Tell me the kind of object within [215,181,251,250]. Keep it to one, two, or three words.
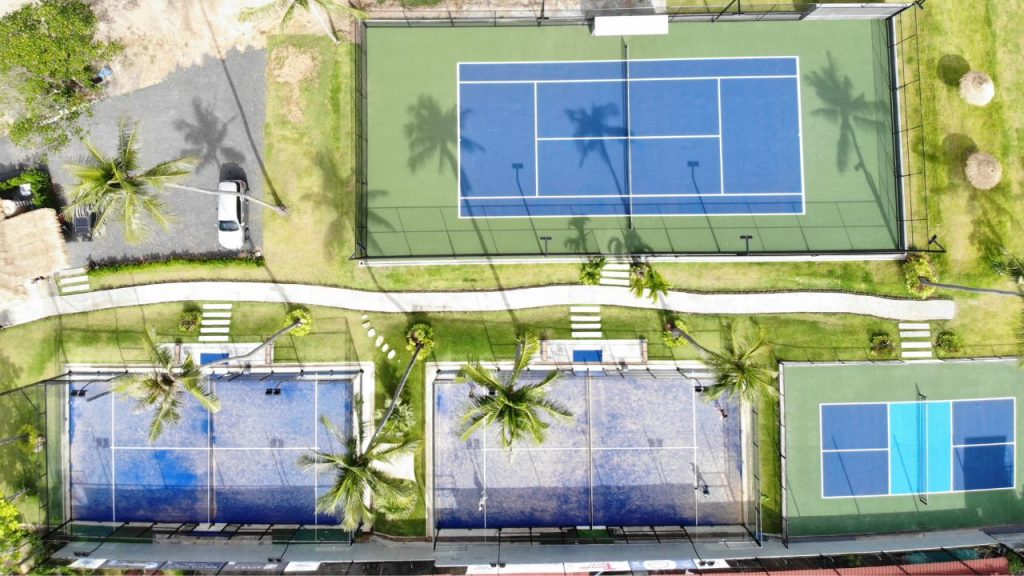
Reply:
car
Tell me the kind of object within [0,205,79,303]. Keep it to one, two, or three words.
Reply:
shed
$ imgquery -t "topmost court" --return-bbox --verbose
[365,17,899,256]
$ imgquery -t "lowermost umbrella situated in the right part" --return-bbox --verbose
[965,152,1003,190]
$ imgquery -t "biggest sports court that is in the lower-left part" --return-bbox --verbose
[61,362,375,531]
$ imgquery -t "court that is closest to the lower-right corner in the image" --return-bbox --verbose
[782,357,1024,538]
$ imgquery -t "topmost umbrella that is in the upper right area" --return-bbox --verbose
[957,70,995,107]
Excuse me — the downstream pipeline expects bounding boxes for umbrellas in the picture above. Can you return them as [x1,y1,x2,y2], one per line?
[965,152,1003,190]
[0,197,26,217]
[957,70,995,107]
